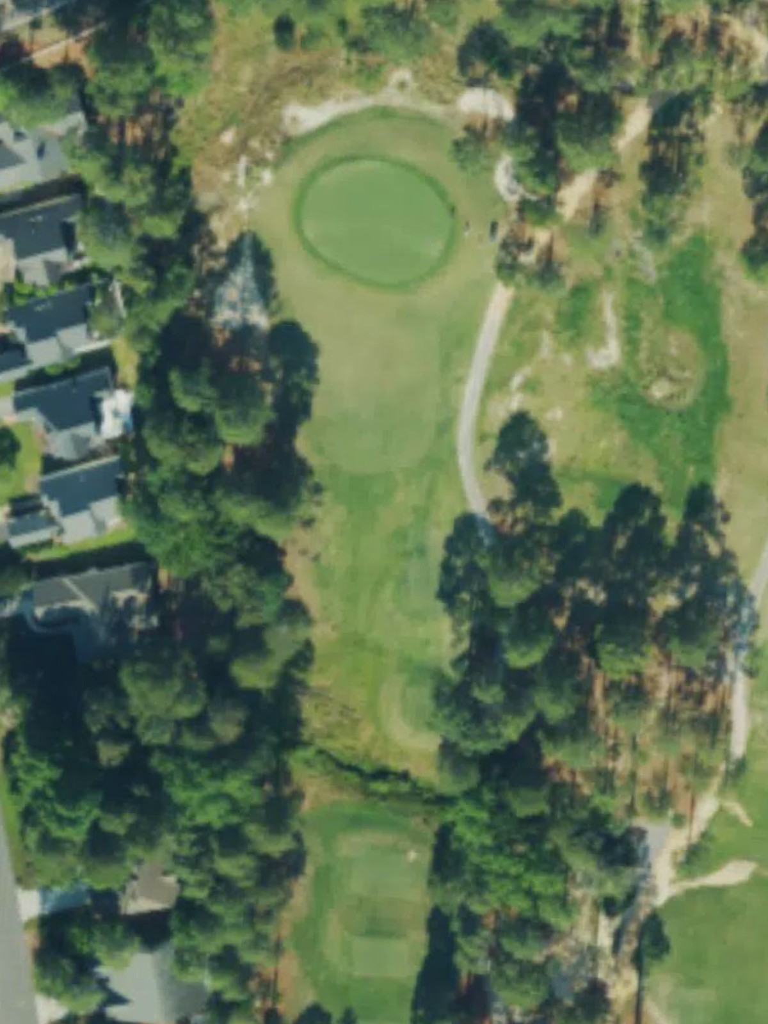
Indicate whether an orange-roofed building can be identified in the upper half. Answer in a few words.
No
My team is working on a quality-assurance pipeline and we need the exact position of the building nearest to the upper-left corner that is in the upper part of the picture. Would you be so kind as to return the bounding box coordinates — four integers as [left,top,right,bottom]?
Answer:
[0,113,75,192]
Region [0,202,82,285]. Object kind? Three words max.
house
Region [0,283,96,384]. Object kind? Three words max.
house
